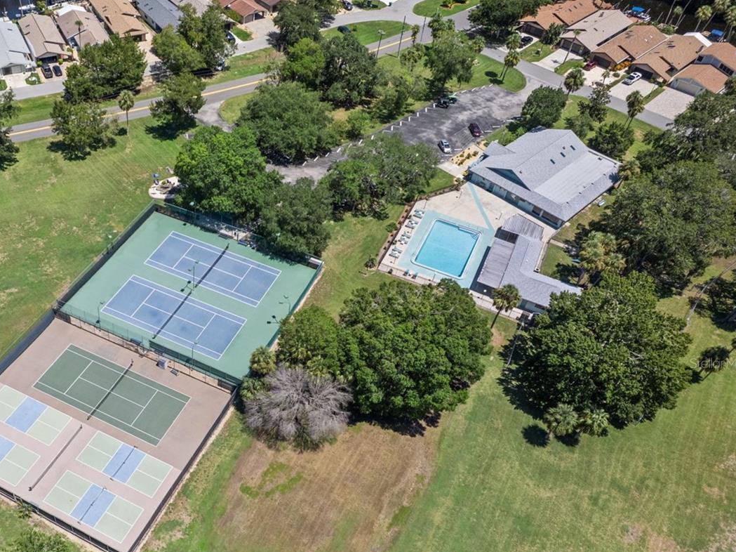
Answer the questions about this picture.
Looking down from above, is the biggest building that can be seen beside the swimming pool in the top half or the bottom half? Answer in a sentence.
The top half of the photo is where the biggest building that can be seen beside the swimming pool is.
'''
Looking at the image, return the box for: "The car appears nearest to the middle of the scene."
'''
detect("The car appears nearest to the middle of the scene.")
[438,138,453,153]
